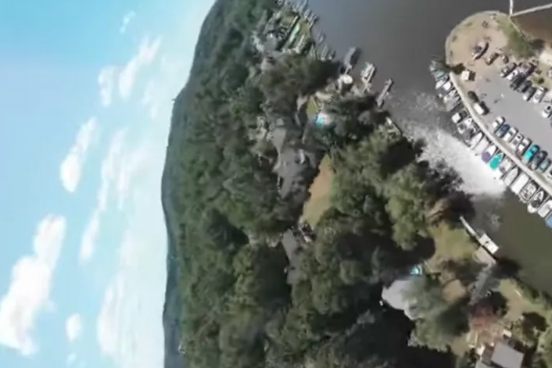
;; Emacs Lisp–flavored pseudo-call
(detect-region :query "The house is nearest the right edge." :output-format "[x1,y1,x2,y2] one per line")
[491,333,528,368]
